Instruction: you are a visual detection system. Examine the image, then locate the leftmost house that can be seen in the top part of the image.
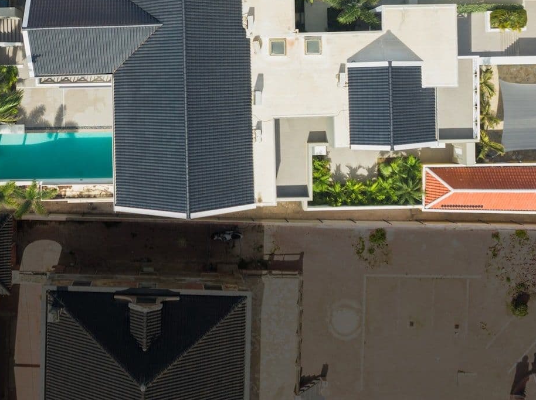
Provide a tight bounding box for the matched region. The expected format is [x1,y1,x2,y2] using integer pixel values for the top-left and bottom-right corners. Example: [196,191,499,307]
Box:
[19,0,255,221]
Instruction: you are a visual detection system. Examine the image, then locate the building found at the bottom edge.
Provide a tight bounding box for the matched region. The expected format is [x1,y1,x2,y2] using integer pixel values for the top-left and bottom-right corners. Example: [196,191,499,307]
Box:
[42,276,257,400]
